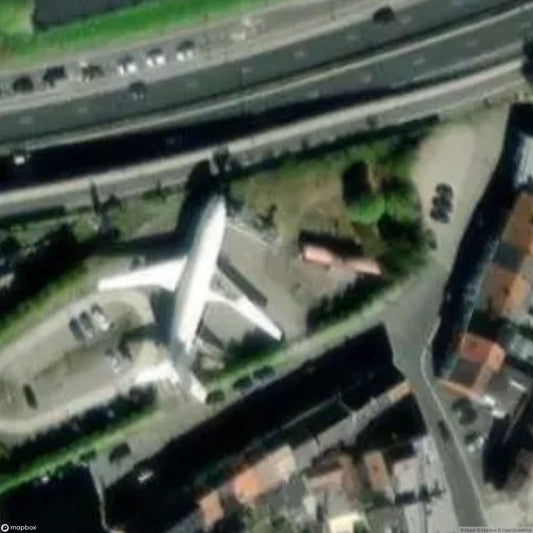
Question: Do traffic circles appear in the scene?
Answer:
No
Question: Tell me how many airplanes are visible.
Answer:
1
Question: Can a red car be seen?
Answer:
No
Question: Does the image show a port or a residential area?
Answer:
residential area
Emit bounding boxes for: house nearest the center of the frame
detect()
[298,235,335,264]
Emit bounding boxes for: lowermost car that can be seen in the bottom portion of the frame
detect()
[133,466,156,484]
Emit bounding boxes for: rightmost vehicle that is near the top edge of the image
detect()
[372,9,398,24]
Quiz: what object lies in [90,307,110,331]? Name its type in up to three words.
car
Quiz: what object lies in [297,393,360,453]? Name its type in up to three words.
house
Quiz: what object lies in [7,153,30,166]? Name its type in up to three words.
vehicle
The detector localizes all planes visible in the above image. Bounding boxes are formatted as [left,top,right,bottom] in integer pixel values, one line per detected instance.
[98,196,281,403]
